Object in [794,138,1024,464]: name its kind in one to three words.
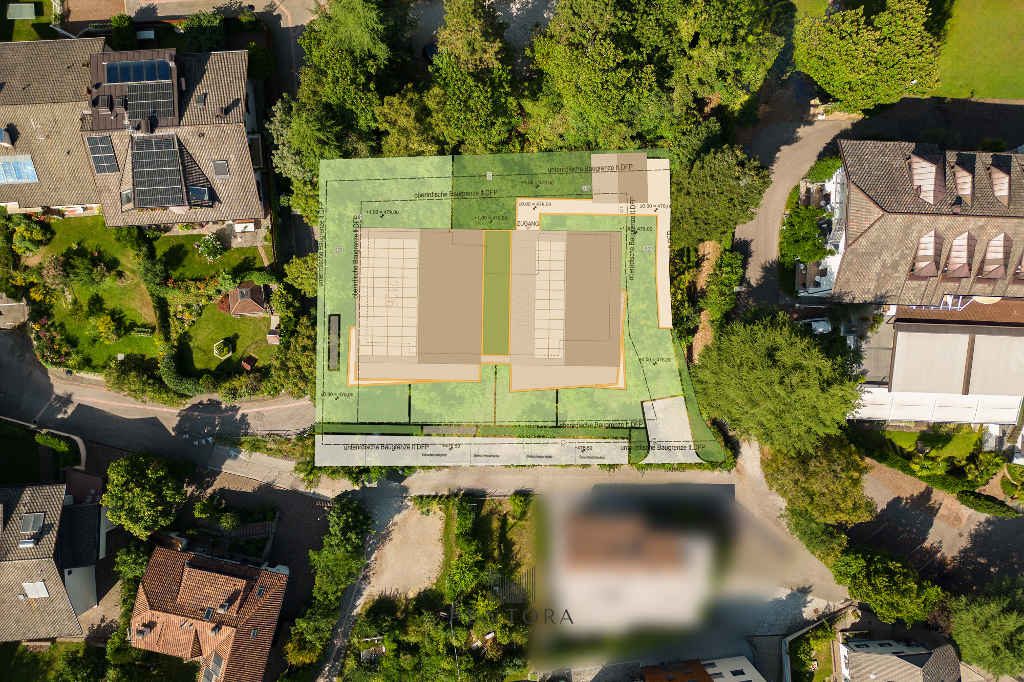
building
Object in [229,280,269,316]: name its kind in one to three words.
building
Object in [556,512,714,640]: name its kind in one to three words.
house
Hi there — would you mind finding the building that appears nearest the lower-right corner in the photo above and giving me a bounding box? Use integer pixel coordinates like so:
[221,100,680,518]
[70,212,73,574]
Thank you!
[825,621,961,682]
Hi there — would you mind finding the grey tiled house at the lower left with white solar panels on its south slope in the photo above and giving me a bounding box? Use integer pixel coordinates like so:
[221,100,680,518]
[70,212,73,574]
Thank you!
[0,466,125,642]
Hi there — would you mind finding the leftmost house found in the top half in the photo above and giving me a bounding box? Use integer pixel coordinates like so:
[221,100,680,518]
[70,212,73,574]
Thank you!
[0,36,112,210]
